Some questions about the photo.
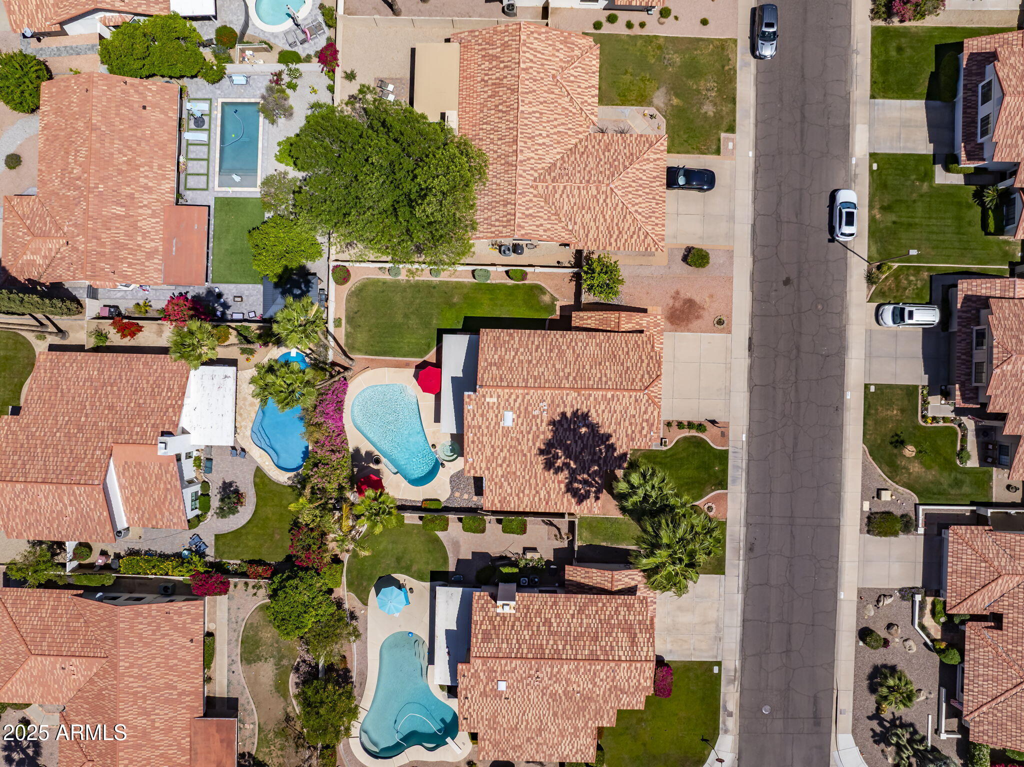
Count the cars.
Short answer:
4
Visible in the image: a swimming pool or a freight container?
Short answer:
swimming pool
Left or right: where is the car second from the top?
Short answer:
right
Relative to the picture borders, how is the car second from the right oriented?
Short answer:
vertically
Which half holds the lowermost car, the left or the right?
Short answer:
right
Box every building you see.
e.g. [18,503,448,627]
[434,565,660,763]
[950,30,1024,238]
[414,22,669,252]
[440,312,665,514]
[3,0,222,34]
[0,72,219,289]
[0,586,246,767]
[0,352,245,544]
[936,525,1024,754]
[944,277,1024,481]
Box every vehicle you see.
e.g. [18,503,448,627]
[666,166,715,192]
[875,303,940,329]
[832,189,859,242]
[752,3,779,61]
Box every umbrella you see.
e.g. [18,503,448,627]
[190,110,204,128]
[287,6,309,35]
[356,472,384,499]
[416,366,442,394]
[378,585,407,615]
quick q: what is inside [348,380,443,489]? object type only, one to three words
swimming pool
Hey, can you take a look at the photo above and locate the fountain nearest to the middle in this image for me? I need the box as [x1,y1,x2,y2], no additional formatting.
[438,440,460,462]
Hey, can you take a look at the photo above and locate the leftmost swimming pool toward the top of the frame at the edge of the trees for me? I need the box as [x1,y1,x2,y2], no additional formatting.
[213,98,264,192]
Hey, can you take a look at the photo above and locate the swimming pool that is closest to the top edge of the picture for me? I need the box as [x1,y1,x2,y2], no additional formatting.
[249,0,312,32]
